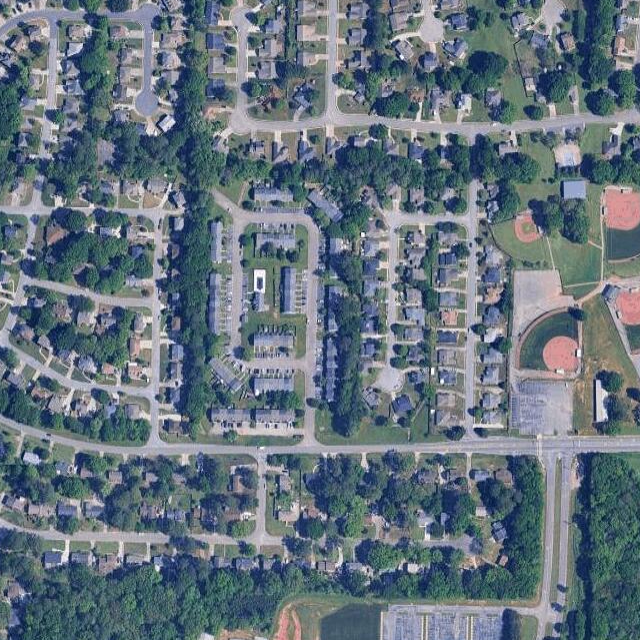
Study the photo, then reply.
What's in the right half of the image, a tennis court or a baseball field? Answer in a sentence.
You can see a baseball field in the right half of the image.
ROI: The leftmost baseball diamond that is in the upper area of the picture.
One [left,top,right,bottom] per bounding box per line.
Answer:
[491,212,542,264]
